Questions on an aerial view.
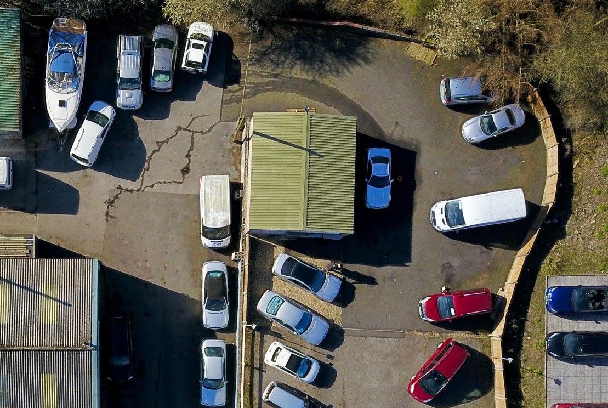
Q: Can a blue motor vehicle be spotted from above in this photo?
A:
Yes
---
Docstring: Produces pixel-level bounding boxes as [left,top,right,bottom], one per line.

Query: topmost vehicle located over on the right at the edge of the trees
[440,73,495,108]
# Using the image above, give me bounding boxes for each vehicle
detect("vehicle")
[546,282,608,317]
[459,103,526,145]
[66,101,117,169]
[260,379,320,408]
[416,287,497,326]
[112,33,148,110]
[198,173,234,248]
[181,20,217,77]
[0,157,13,191]
[272,250,343,303]
[256,287,331,348]
[362,148,396,209]
[262,341,321,386]
[200,261,234,329]
[426,184,534,233]
[546,328,608,363]
[440,73,495,108]
[148,24,182,93]
[197,339,231,406]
